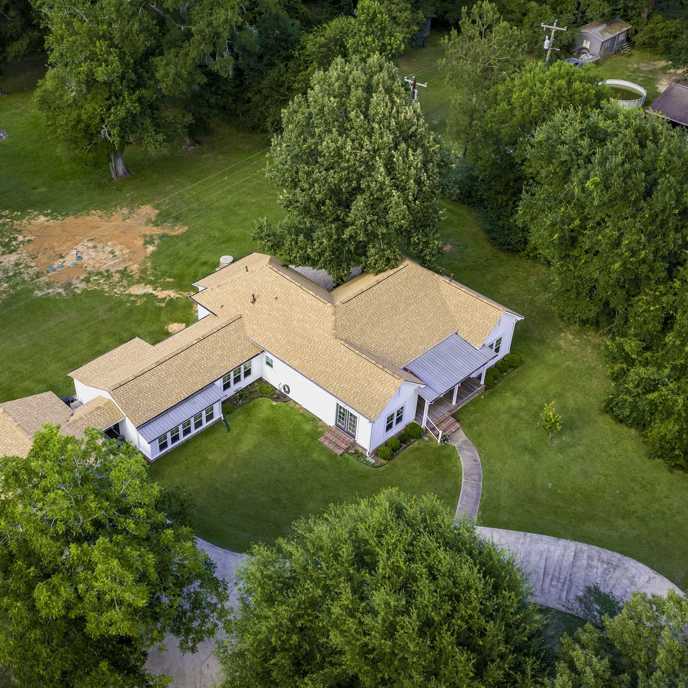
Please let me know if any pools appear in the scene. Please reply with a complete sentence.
Yes, there's a pool down there.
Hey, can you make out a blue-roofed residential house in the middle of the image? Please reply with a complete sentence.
No, there's no blue-roofed residential house to be seen in the middle of the image.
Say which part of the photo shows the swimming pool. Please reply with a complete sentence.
The swimming pool is in the top right part of the image.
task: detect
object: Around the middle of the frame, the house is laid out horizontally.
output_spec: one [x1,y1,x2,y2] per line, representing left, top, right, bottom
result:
[65,251,524,457]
